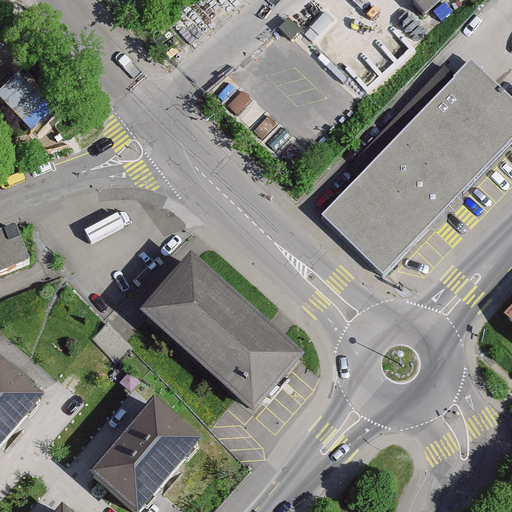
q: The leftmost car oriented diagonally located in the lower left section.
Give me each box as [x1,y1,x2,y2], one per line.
[63,396,84,416]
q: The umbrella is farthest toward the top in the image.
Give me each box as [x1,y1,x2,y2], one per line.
[120,374,140,392]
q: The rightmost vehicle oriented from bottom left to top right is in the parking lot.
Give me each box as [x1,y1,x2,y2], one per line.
[463,16,483,36]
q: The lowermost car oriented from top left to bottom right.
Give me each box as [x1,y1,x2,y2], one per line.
[89,292,108,312]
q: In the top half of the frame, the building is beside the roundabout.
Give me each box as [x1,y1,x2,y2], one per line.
[322,59,512,278]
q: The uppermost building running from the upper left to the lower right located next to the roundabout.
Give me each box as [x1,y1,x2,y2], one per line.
[138,250,305,413]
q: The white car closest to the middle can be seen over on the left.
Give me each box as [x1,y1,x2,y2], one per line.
[162,234,184,256]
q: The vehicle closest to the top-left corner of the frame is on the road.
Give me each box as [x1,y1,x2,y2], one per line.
[112,50,142,80]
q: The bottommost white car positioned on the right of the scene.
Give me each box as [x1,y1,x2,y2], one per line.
[329,443,350,463]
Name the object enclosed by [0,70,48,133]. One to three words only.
shed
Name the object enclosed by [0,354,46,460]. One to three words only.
house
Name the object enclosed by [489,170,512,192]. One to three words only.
vehicle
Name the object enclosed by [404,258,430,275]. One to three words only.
car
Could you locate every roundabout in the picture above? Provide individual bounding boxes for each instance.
[340,302,464,426]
